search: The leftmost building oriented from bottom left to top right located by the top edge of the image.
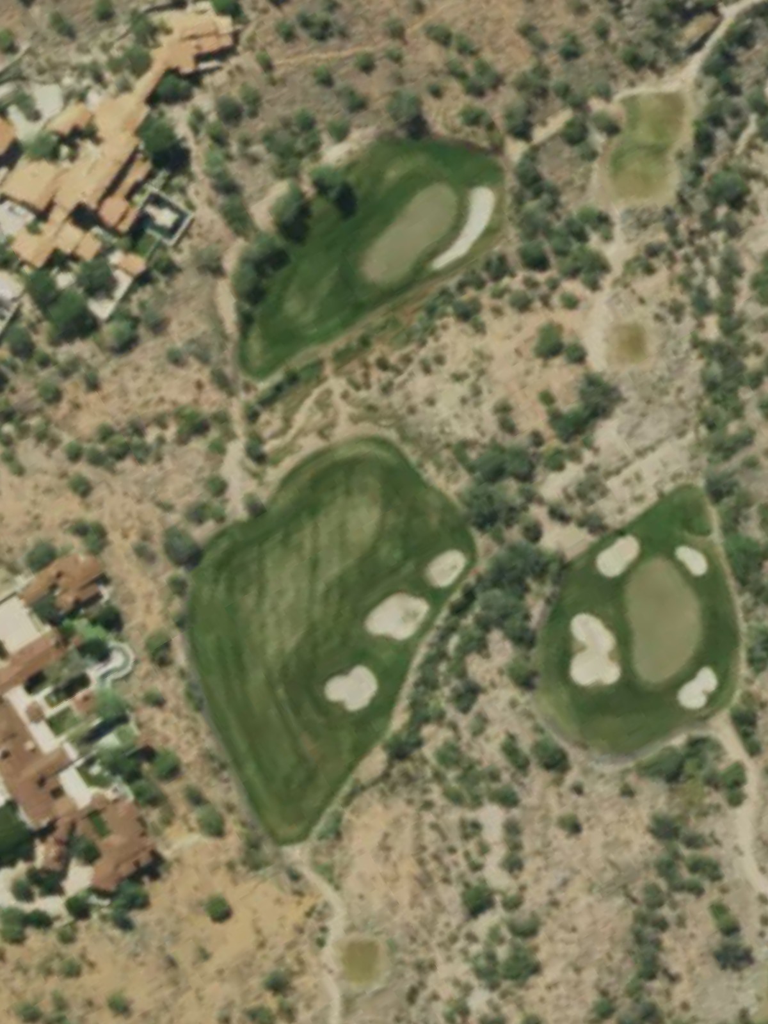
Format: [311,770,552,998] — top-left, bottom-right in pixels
[0,1,234,269]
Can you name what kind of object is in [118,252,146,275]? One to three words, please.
house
